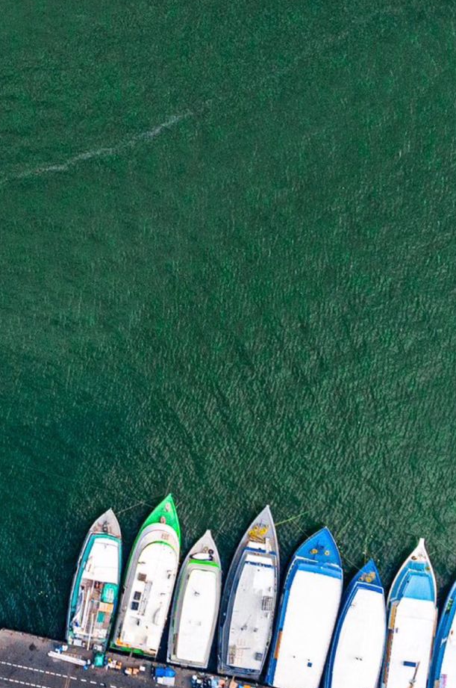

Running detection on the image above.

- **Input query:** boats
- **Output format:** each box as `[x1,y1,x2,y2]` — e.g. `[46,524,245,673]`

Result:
[167,527,222,667]
[110,494,181,658]
[66,508,122,650]
[324,559,387,688]
[190,553,213,562]
[265,527,343,688]
[379,536,437,688]
[429,582,456,688]
[217,506,280,680]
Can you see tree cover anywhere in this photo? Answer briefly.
No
